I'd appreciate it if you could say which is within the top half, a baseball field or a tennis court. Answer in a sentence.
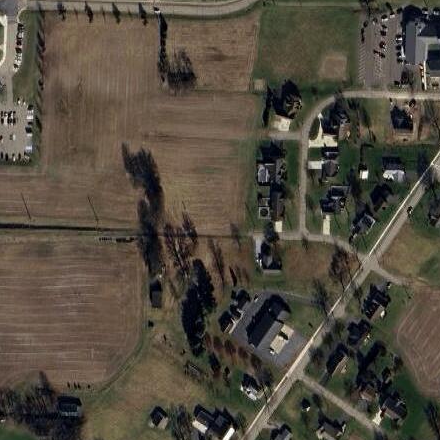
What appears within the top half is a baseball field.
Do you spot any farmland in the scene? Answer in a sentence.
Yes, farmland can be seen from above here.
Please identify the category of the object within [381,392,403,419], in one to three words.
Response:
house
